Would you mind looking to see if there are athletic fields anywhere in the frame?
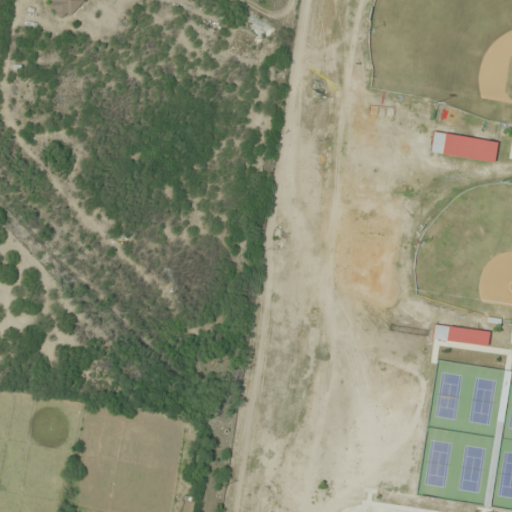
Yes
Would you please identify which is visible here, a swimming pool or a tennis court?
tennis court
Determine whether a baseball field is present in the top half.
Yes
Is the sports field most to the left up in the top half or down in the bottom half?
bottom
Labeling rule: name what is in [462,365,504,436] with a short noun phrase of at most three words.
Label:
tennis court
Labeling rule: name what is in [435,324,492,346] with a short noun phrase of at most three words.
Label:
building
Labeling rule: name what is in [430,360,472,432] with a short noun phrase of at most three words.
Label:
tennis court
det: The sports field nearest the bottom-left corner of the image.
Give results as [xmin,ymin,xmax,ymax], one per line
[0,392,84,512]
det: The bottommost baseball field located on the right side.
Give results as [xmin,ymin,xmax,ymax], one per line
[416,184,512,317]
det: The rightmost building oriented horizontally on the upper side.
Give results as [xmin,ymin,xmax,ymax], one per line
[432,130,500,162]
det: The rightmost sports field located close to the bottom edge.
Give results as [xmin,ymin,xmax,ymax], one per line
[74,407,180,512]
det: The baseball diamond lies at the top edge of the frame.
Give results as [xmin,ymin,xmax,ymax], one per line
[370,0,512,124]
